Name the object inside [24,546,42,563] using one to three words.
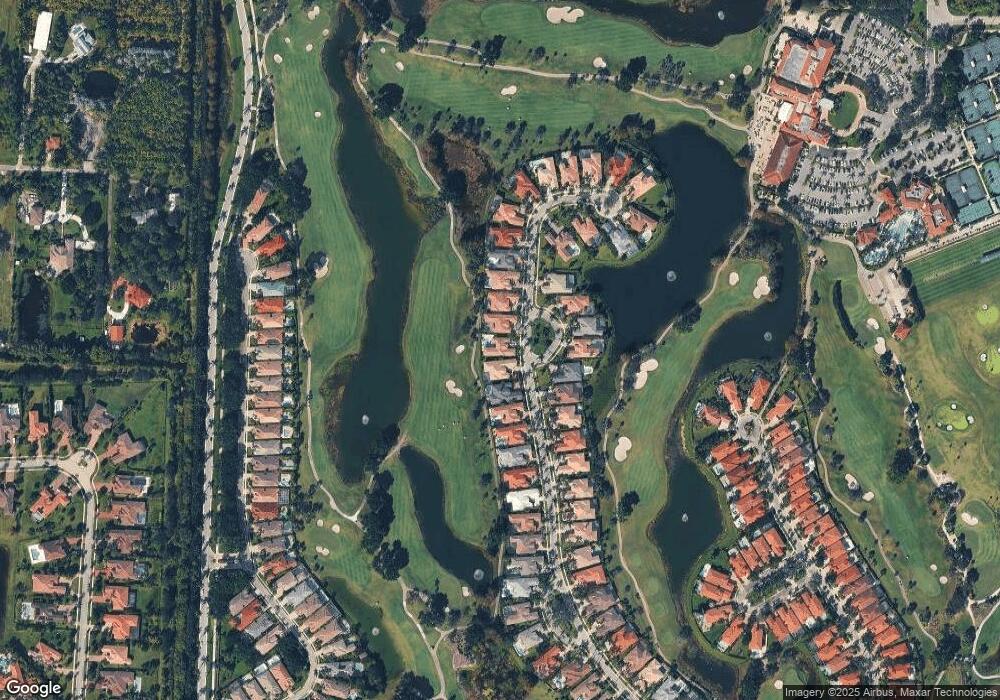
swimming pool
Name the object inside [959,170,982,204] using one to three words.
tennis court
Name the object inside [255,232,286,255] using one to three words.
house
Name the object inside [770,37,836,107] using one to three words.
building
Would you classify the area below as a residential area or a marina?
residential area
